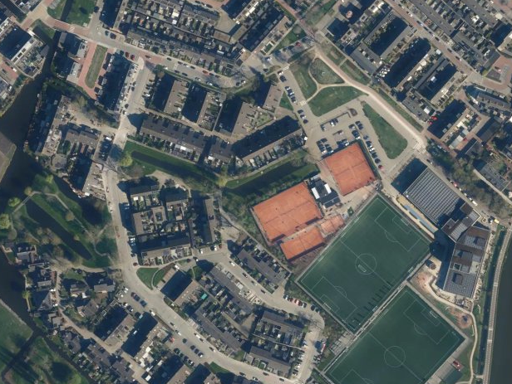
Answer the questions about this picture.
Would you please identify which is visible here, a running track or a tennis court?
tennis court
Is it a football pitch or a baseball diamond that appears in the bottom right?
football pitch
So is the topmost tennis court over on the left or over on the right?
right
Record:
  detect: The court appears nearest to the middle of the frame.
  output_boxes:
[252,182,324,241]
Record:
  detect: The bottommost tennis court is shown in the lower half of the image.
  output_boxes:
[281,227,325,259]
